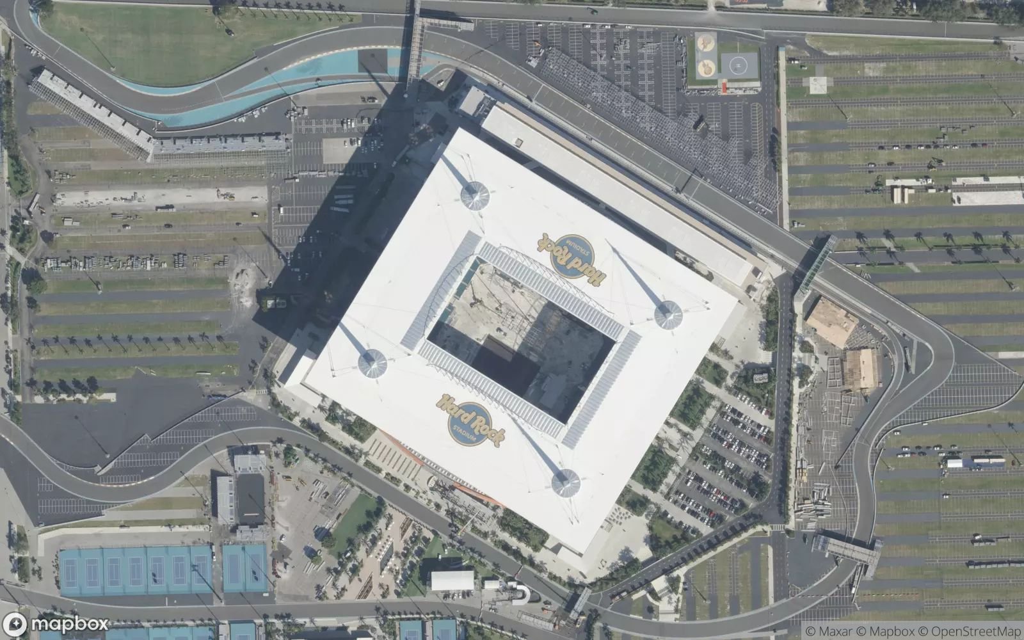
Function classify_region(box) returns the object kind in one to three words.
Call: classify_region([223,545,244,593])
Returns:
tennis court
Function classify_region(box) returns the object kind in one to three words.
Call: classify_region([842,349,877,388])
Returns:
shed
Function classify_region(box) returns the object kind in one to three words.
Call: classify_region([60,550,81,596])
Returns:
tennis court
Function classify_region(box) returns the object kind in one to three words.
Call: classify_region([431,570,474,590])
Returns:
building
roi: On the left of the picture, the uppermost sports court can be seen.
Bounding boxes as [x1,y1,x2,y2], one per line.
[237,474,264,524]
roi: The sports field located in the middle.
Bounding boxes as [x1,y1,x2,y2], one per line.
[428,262,614,423]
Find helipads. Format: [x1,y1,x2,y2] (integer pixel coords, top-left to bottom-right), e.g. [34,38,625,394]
[721,44,757,79]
